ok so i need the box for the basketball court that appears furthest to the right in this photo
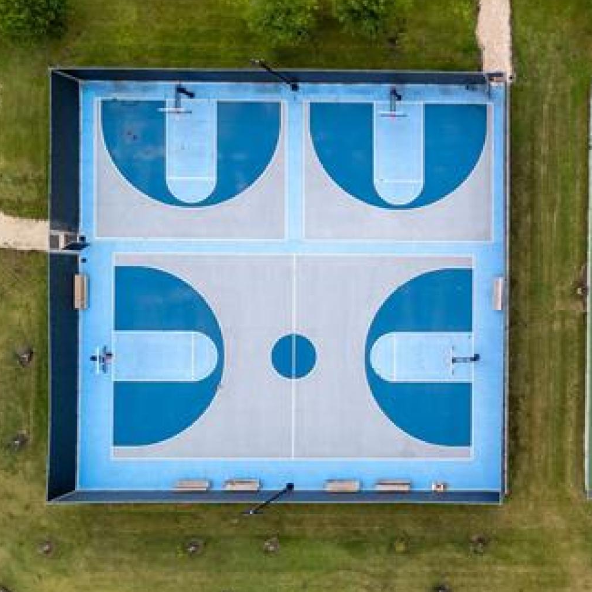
[302,100,493,242]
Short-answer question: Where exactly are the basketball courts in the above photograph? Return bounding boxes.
[110,253,474,460]
[302,100,493,242]
[94,98,286,240]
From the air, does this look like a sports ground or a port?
sports ground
